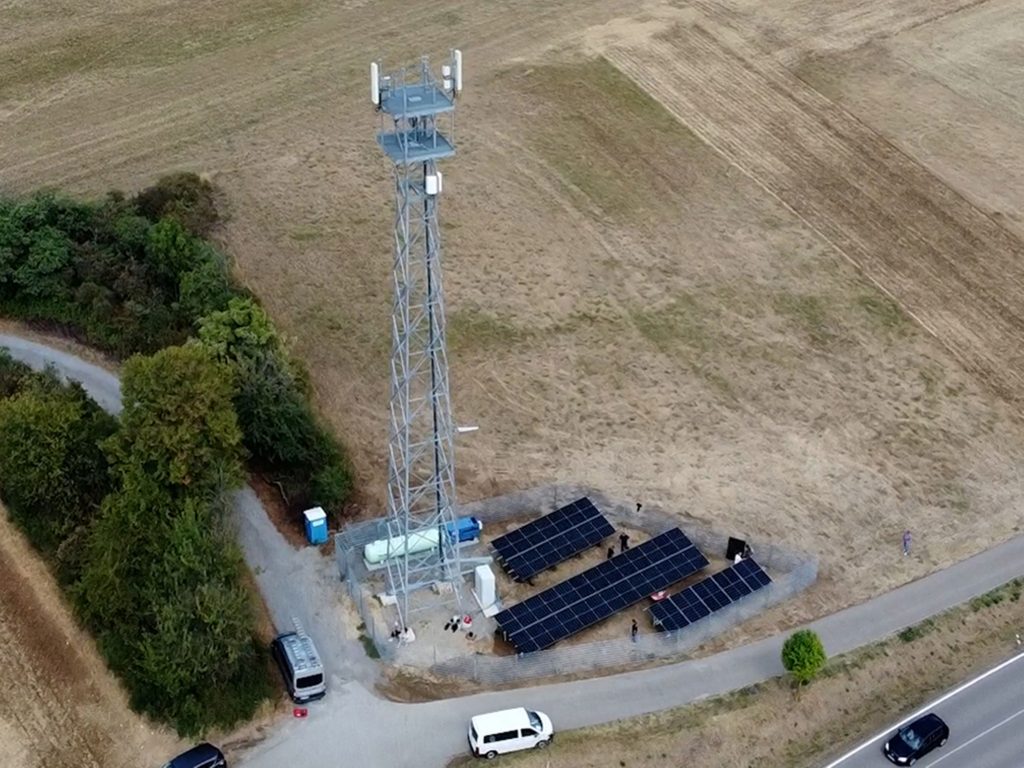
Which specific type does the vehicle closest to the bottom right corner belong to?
automobile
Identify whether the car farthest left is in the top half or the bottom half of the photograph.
bottom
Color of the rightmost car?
black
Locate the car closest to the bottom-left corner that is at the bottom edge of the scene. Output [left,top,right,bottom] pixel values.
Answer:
[164,739,231,768]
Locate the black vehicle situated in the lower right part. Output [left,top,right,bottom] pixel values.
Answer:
[886,711,954,767]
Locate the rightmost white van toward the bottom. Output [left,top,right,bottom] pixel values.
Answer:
[466,708,556,759]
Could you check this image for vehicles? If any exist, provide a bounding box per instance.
[886,711,954,767]
[466,708,556,759]
[273,633,326,701]
[164,739,231,768]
